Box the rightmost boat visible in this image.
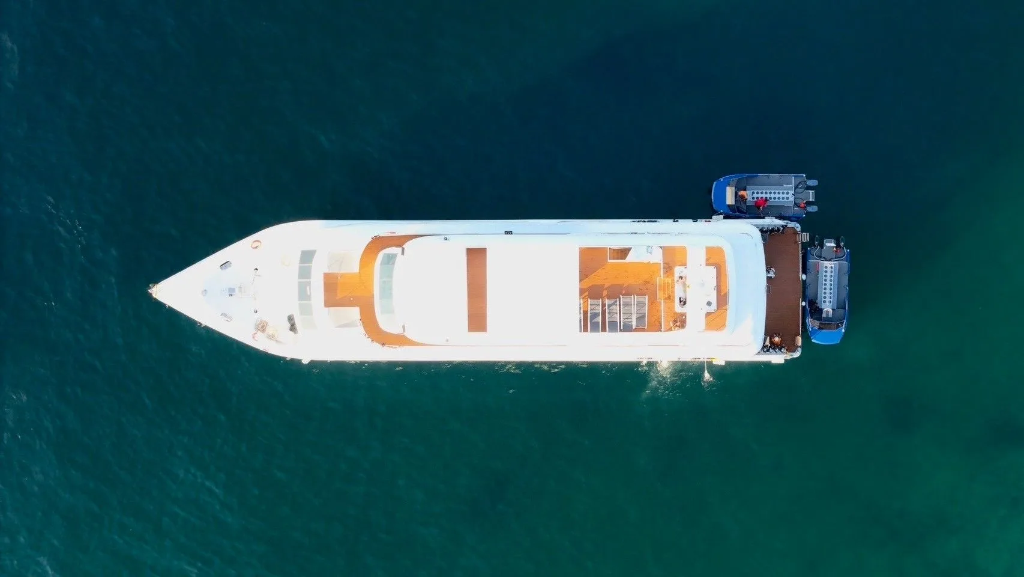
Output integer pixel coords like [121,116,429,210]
[804,237,850,344]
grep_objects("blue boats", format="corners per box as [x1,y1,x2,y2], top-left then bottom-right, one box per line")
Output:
[711,174,820,217]
[804,237,850,344]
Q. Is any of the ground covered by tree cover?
No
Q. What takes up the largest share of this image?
water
